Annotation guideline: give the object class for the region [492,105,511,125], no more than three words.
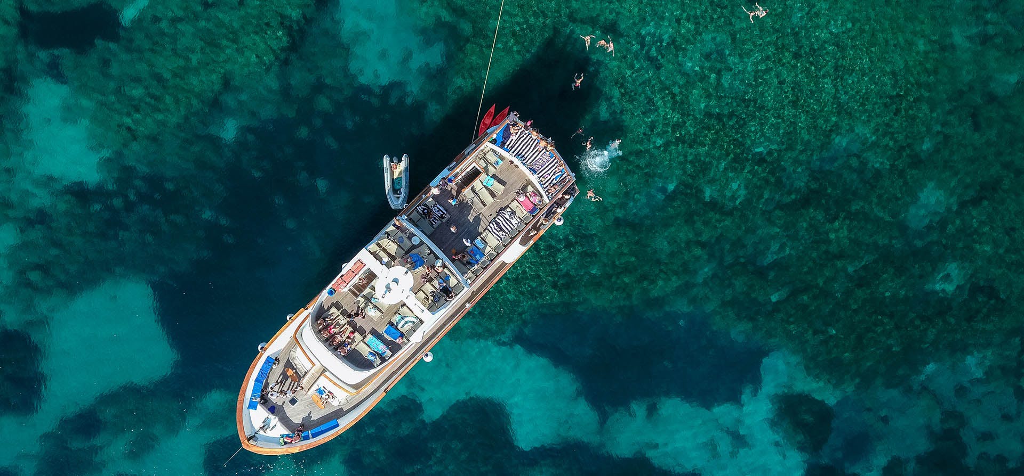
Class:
boat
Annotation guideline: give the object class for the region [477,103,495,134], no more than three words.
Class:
boat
